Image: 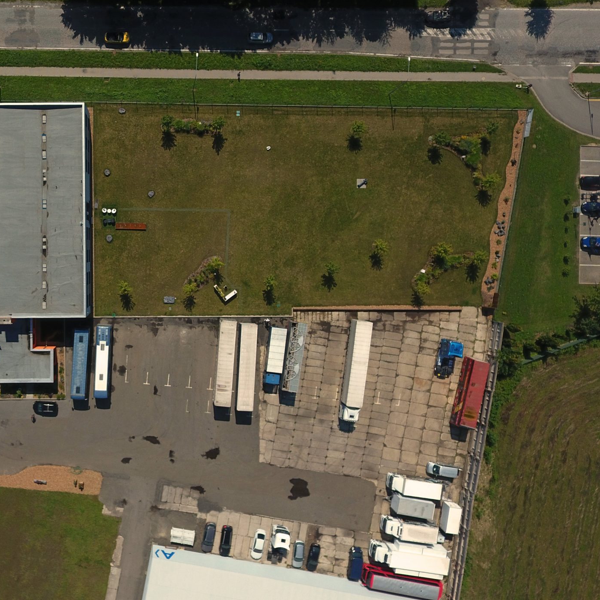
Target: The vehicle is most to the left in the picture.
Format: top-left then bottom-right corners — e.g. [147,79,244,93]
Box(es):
[34,401,58,414]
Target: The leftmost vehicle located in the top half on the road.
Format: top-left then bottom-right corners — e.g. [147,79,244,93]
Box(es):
[105,30,131,44]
